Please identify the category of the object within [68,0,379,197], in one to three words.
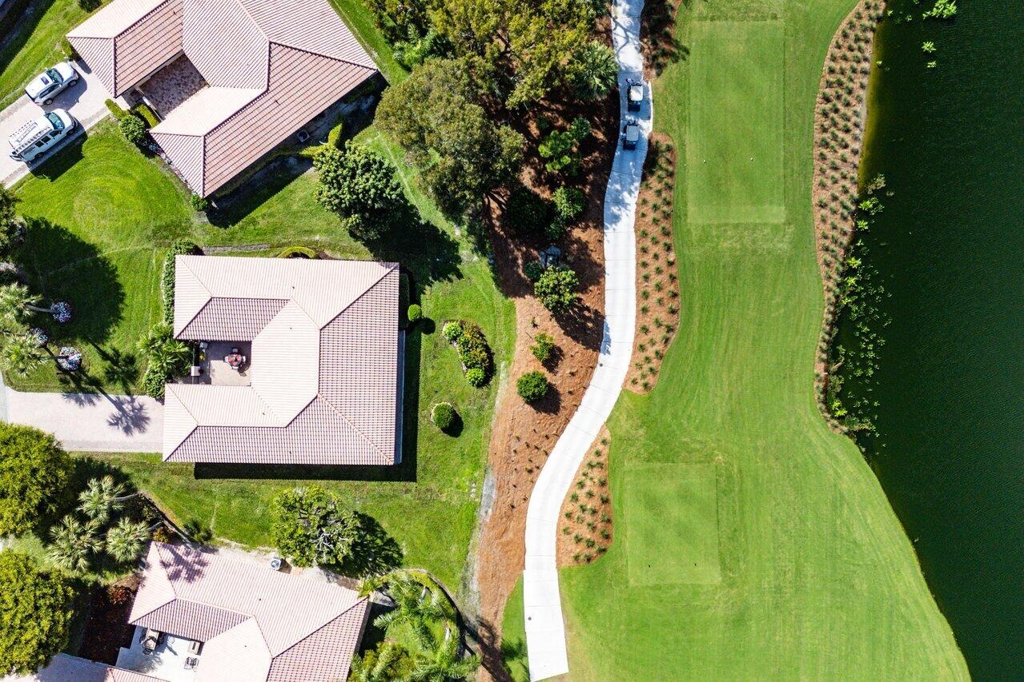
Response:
house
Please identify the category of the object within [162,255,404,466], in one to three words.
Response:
house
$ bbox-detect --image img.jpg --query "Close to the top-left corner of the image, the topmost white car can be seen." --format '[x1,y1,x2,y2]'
[21,57,80,104]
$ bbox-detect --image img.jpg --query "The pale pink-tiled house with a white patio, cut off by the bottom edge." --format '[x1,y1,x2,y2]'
[105,539,366,682]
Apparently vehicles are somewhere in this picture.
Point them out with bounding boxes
[21,57,80,104]
[3,104,80,163]
[622,123,639,152]
[625,84,643,113]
